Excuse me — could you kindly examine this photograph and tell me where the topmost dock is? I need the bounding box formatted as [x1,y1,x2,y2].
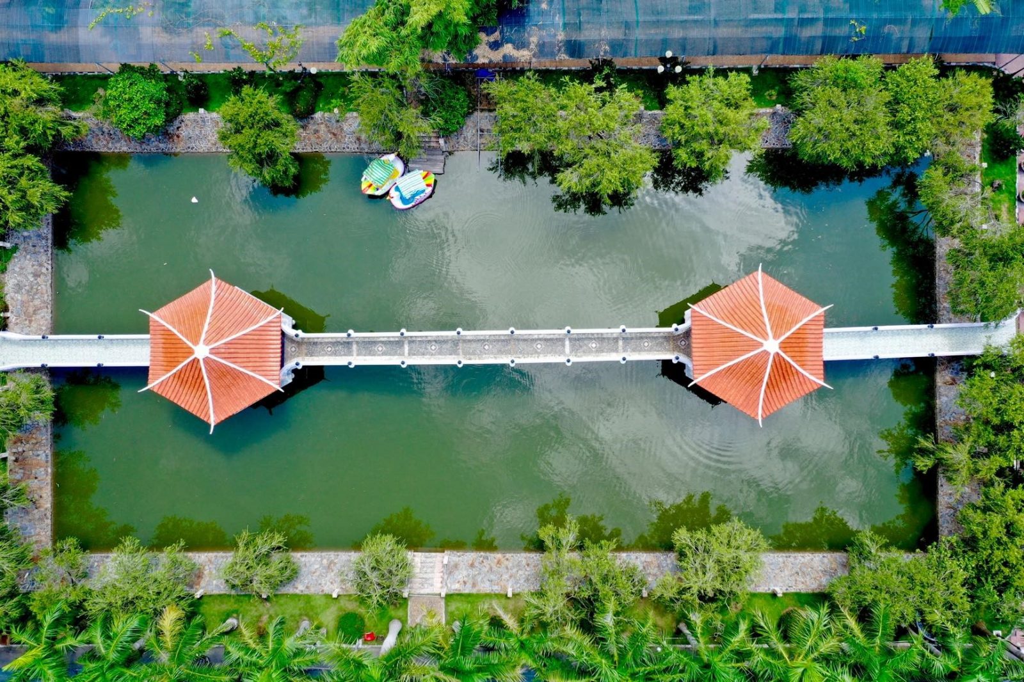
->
[408,150,439,176]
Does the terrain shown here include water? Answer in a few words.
Yes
